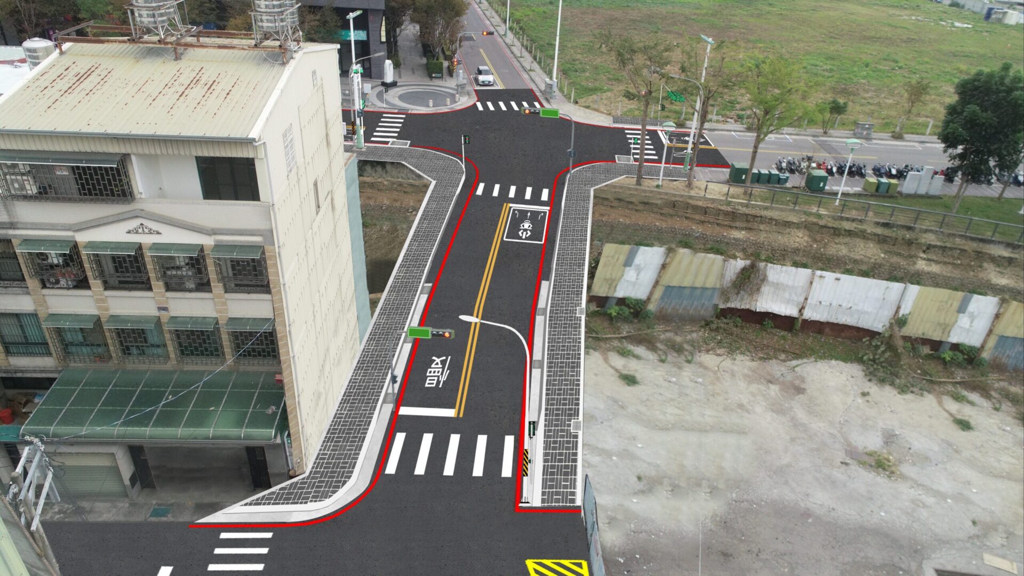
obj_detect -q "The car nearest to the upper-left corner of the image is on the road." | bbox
[471,64,492,84]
